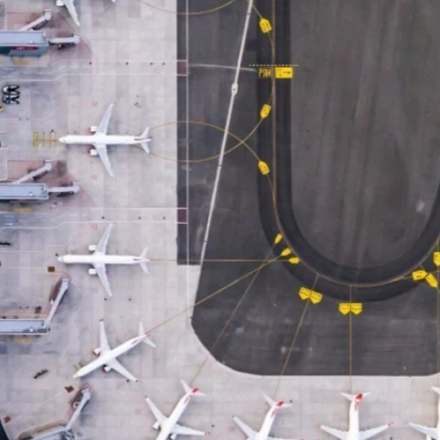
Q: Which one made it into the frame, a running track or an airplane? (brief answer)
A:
airplane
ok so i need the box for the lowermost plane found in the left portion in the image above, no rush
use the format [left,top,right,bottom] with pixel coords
[144,385,205,440]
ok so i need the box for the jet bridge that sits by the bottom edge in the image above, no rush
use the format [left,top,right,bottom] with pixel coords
[64,388,89,427]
